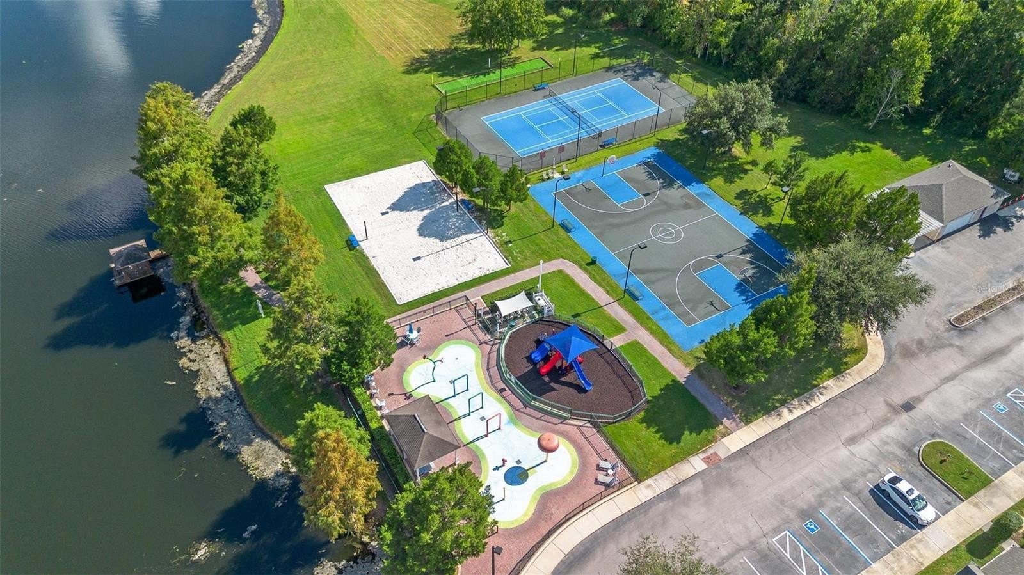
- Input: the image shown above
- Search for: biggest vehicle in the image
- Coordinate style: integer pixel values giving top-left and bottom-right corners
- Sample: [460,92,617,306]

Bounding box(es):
[875,465,936,521]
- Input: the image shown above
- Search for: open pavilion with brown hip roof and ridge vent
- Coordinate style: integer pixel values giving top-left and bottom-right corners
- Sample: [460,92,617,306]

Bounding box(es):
[385,395,461,473]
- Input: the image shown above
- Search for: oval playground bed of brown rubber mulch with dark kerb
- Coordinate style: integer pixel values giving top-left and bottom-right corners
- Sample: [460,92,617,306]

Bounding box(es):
[502,318,644,417]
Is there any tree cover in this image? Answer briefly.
Yes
